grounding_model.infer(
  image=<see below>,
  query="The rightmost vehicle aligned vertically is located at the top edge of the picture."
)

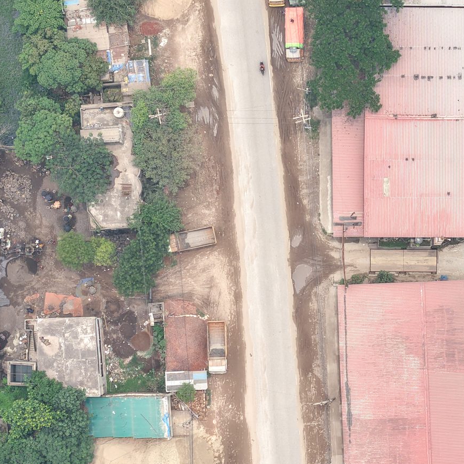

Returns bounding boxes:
[283,6,306,67]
